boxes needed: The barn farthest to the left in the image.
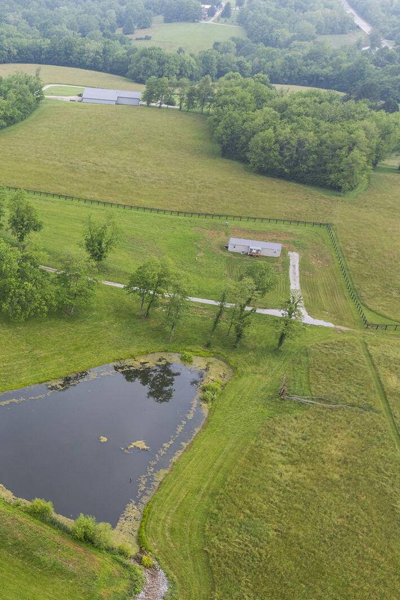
[83,91,141,105]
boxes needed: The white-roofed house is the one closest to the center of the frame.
[229,235,282,257]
